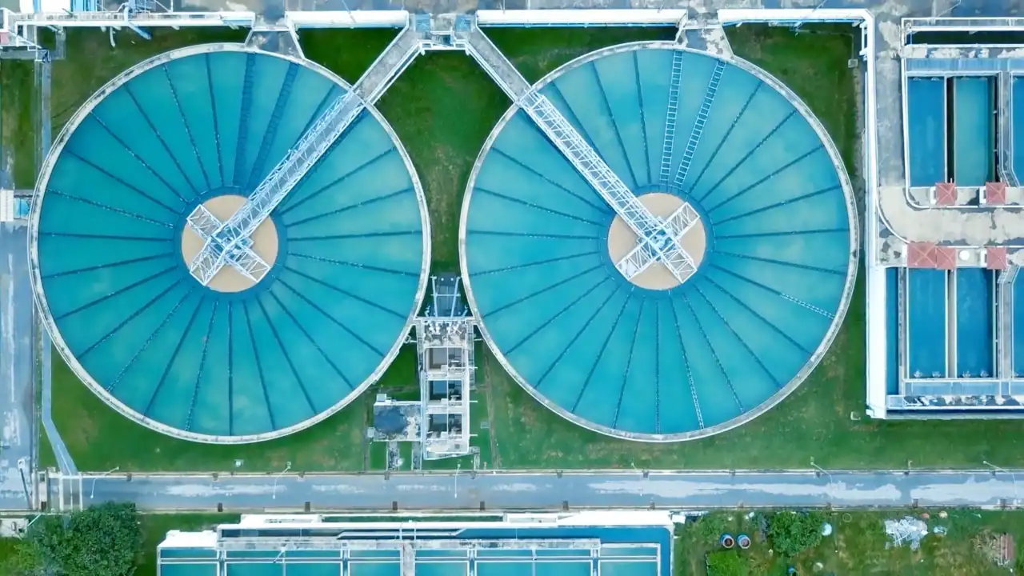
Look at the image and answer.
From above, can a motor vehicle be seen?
No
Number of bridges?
2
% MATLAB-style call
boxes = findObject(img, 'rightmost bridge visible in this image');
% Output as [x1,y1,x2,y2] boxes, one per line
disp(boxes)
[520,91,700,284]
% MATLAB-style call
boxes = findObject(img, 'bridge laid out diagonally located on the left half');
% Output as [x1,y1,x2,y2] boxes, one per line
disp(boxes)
[185,89,366,285]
